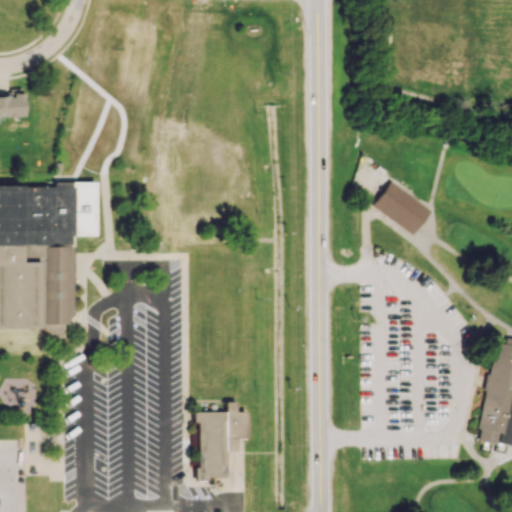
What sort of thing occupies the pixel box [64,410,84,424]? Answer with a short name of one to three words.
vehicle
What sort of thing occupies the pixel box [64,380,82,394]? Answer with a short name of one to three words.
vehicle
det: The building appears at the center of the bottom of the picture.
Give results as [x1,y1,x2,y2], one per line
[197,403,250,480]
